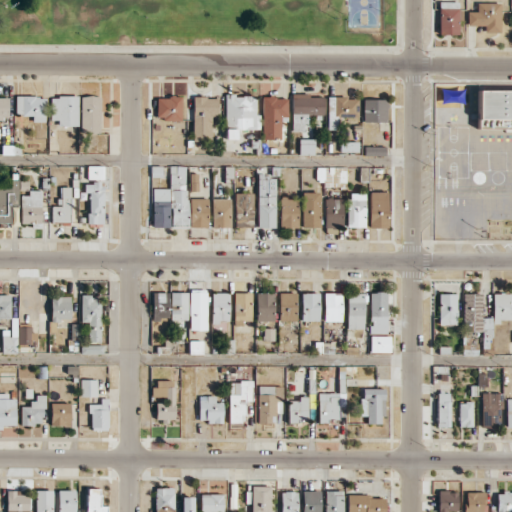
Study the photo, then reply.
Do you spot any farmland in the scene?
No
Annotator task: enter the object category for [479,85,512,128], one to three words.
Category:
building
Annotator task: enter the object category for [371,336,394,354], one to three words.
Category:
shed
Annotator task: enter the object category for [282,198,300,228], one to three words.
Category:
house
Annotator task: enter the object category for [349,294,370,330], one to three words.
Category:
house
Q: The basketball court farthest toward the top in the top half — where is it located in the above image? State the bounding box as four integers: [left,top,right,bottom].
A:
[348,0,384,33]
